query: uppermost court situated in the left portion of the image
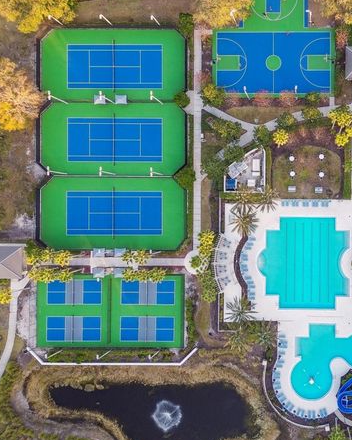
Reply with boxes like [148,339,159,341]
[41,29,183,101]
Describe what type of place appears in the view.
sports ground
